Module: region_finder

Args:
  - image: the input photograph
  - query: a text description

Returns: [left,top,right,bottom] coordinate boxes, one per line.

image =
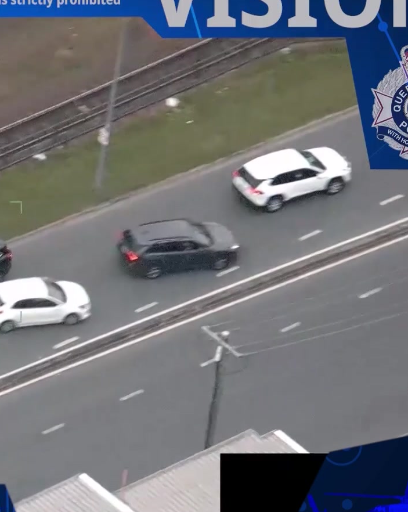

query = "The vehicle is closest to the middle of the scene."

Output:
[119,215,238,279]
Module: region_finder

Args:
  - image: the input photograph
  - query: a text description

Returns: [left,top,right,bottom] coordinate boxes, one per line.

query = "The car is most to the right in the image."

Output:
[232,142,353,214]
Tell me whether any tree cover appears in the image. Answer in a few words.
No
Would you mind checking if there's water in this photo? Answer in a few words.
No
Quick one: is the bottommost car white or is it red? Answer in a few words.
white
